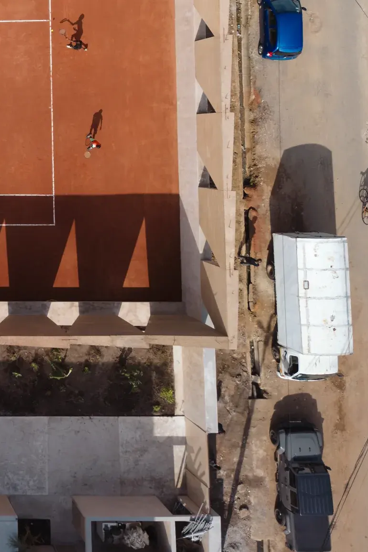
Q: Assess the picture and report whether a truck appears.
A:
Yes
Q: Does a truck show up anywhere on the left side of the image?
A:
No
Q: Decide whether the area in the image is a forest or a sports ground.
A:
sports ground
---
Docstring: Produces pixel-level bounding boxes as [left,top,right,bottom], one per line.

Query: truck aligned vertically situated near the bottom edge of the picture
[283,422,349,552]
